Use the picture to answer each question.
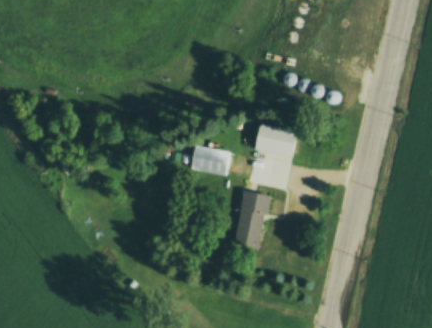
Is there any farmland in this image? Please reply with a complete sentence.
Yes, there is farmland in the image.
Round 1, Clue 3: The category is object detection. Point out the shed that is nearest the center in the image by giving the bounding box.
[191,146,232,176]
